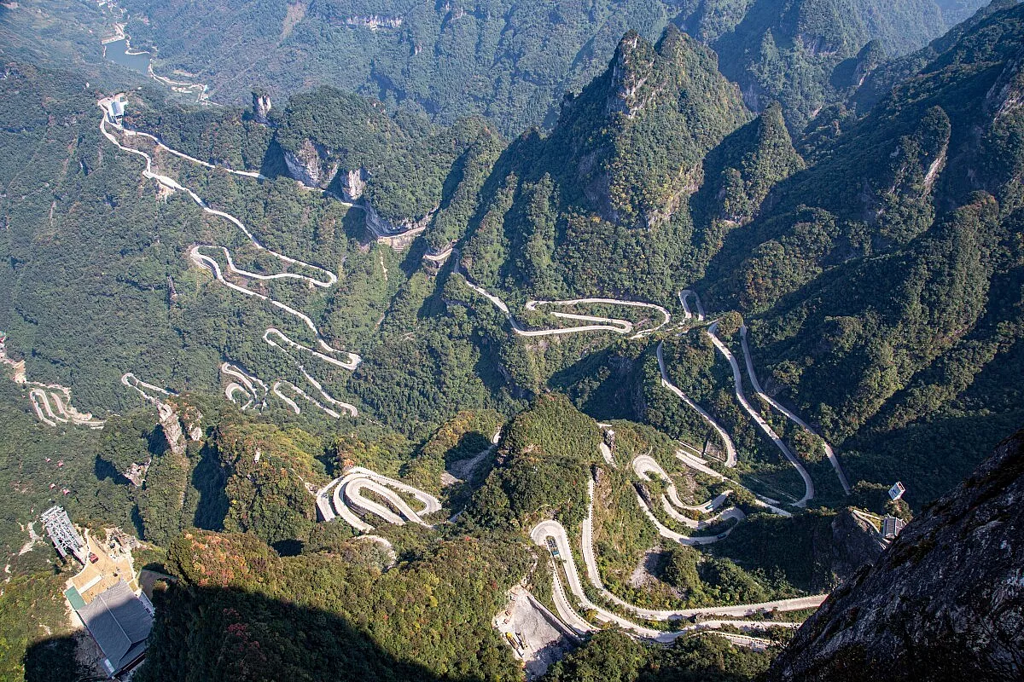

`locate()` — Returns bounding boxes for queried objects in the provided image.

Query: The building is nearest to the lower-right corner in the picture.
[872,515,905,551]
